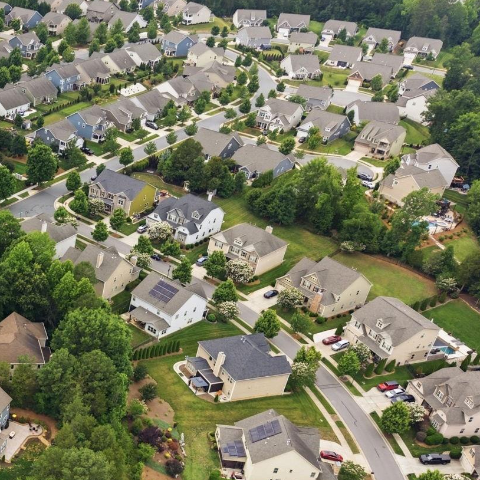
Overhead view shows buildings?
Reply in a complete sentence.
Yes, looking at the shot, I can spot a building.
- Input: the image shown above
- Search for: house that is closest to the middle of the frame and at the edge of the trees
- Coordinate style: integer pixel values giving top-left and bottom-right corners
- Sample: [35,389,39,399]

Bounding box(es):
[196,222,283,289]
